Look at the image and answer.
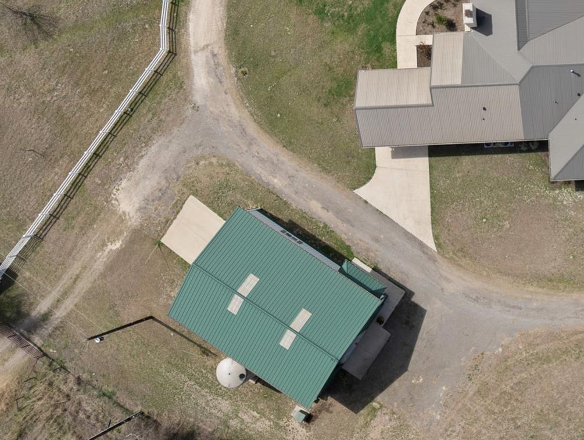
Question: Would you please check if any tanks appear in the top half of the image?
No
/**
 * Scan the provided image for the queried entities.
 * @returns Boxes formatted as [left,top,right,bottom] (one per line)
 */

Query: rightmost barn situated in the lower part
[166,204,387,411]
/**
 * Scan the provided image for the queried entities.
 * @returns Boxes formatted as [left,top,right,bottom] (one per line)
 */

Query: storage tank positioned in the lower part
[217,356,253,387]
